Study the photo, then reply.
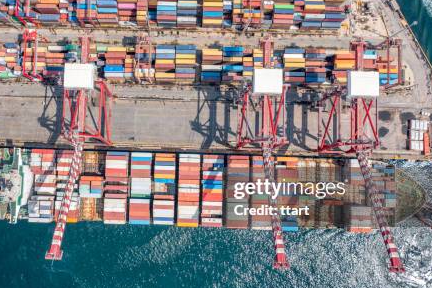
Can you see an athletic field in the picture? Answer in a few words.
No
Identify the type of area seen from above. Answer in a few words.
port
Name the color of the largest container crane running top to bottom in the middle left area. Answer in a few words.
white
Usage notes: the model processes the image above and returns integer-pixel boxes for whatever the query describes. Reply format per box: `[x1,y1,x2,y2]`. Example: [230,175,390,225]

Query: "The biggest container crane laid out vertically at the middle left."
[45,34,117,261]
